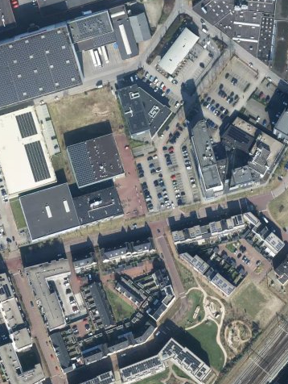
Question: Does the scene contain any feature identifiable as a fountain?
No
